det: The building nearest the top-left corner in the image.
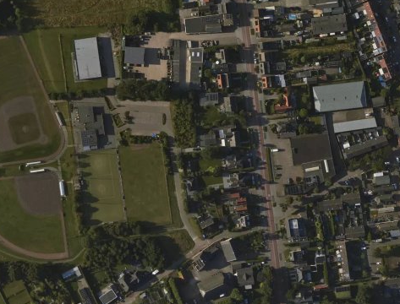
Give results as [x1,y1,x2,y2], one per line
[74,37,101,80]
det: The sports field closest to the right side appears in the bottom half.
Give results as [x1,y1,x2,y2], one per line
[120,146,171,223]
